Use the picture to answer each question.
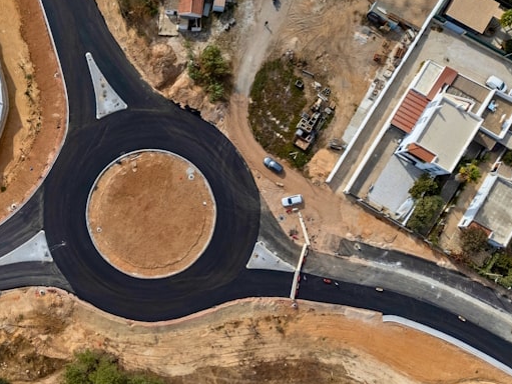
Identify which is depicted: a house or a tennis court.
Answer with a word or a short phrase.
house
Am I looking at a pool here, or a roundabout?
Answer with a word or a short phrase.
roundabout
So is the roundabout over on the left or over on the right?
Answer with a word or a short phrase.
left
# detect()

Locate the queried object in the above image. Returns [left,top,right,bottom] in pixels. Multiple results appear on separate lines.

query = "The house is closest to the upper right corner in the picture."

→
[440,0,512,36]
